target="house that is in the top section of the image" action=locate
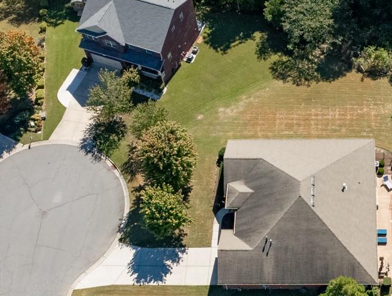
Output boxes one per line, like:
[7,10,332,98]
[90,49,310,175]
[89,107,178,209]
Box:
[75,0,198,91]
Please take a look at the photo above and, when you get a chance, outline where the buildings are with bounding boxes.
[75,0,198,91]
[216,138,379,290]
